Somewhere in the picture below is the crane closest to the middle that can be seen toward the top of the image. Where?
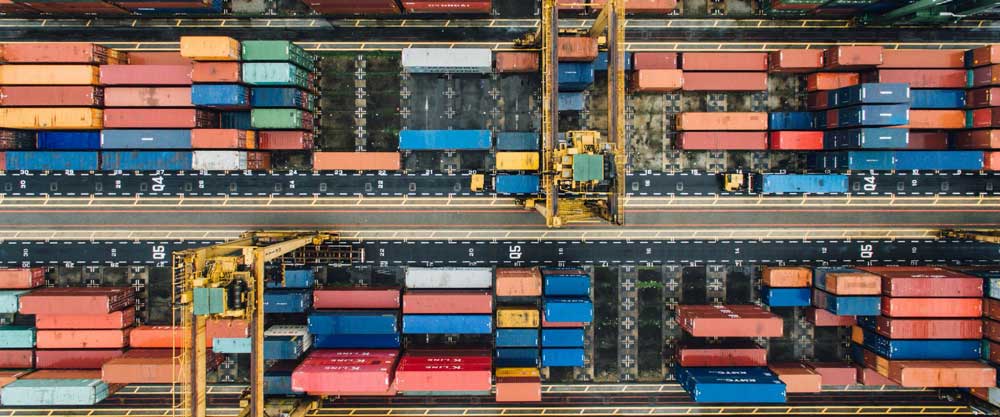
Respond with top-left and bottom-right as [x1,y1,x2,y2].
[509,0,622,229]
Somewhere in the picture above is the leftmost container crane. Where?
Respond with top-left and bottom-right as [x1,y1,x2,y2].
[173,229,349,417]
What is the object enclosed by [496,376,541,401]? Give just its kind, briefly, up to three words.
shipping container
